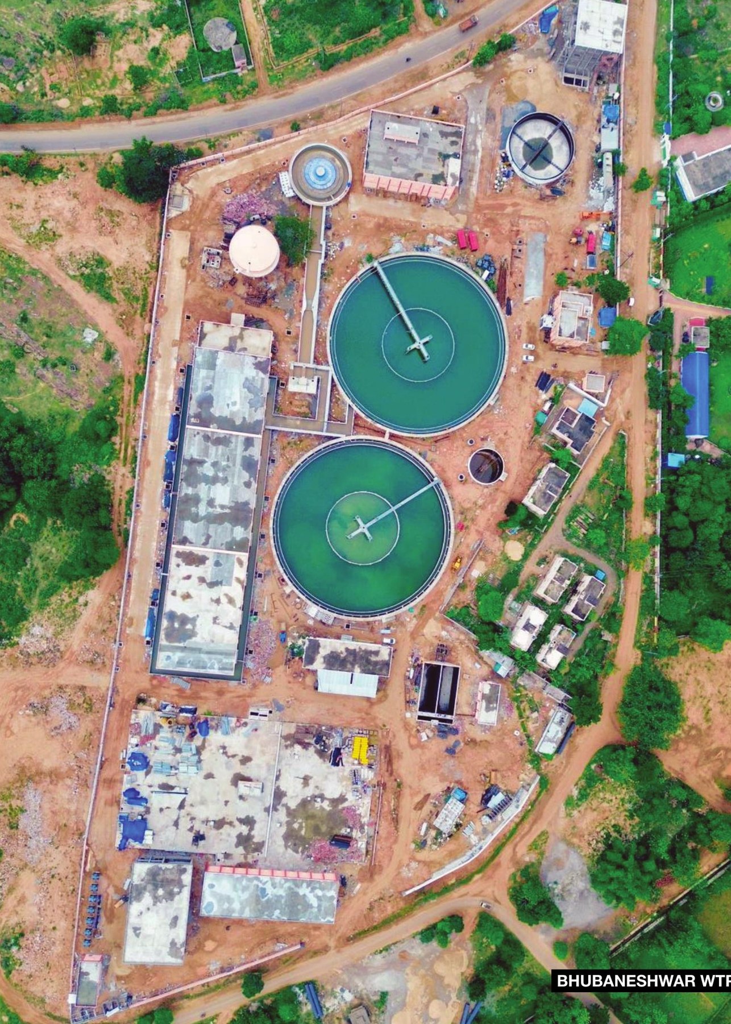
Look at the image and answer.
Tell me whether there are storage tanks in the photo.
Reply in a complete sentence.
Yes, a storage tank can be made out from above.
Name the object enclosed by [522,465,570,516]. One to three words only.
building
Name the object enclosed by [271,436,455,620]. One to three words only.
water tank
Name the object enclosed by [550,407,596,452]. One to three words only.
house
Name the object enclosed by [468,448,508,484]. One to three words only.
storage tank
